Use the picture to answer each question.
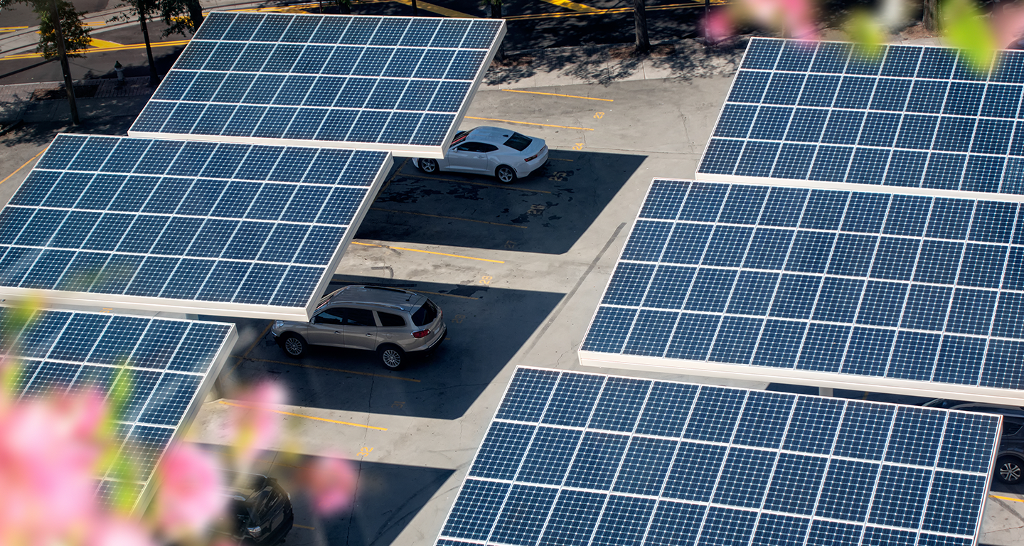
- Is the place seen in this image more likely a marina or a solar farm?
solar farm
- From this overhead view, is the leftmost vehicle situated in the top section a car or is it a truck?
car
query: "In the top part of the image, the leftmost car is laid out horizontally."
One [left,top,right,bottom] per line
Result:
[405,125,553,184]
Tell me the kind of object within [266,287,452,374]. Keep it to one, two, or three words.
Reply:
car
